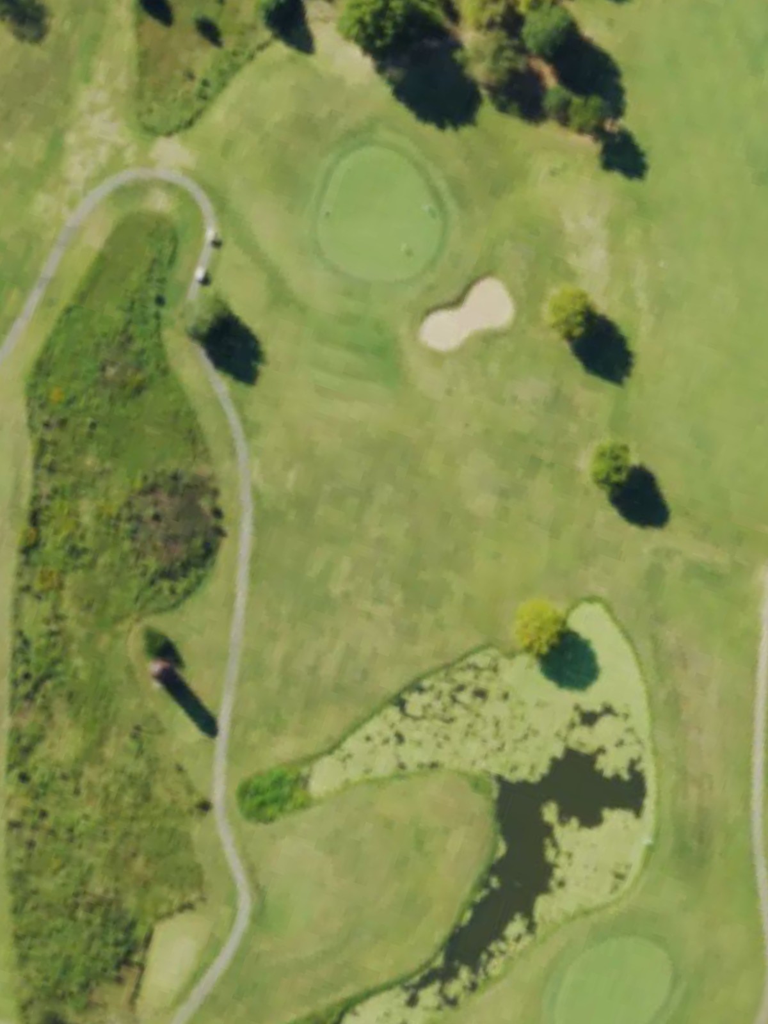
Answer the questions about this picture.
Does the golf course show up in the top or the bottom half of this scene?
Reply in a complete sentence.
Seen from above, the golf course lies in the top half of the view.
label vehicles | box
[195,267,205,281]
[206,230,214,244]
